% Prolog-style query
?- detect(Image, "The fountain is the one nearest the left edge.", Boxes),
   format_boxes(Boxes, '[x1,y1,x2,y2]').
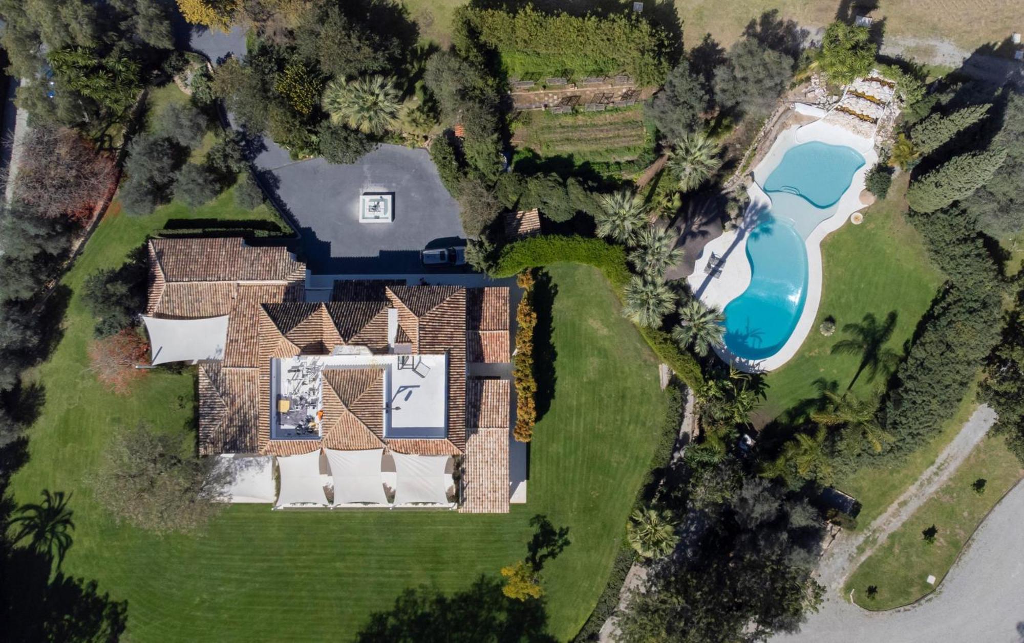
[358,194,392,222]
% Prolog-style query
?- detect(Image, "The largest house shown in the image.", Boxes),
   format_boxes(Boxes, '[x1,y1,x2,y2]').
[146,236,510,514]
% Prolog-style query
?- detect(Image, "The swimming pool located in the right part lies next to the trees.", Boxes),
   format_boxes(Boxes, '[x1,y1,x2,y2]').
[688,120,880,373]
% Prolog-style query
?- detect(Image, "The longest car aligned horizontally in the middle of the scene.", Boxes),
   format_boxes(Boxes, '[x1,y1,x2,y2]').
[421,246,465,268]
